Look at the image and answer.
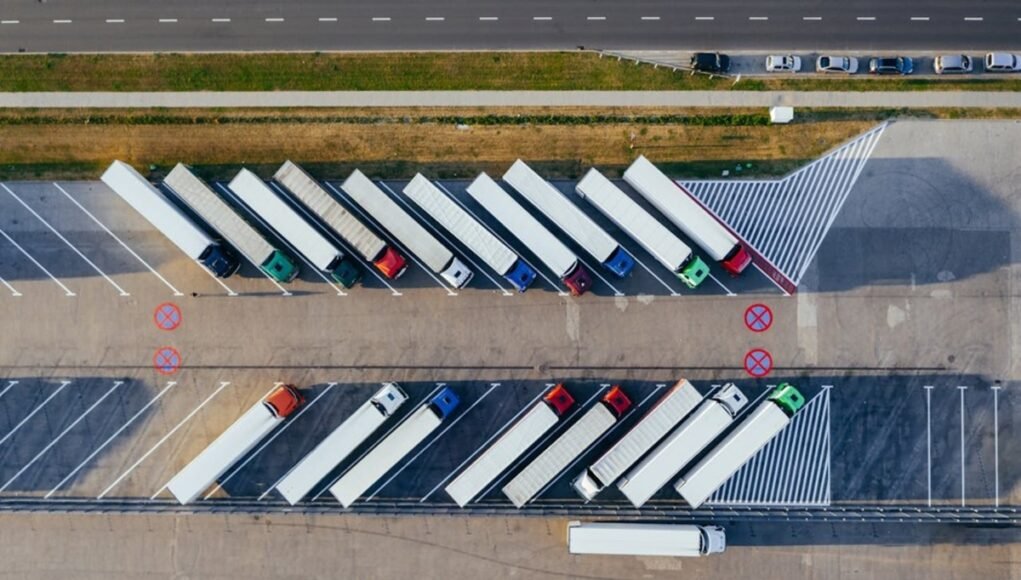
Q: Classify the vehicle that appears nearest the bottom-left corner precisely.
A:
truck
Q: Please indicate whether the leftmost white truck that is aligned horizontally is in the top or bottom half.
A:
bottom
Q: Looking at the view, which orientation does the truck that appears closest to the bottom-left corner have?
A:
on a diagonal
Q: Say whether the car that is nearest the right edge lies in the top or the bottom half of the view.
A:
top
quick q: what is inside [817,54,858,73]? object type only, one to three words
car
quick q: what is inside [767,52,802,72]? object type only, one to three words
car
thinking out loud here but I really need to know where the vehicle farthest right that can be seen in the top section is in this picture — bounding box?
[984,51,1021,72]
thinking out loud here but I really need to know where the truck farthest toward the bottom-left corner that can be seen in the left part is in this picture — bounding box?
[167,381,308,505]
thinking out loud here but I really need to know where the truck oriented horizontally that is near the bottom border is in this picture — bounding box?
[567,519,727,556]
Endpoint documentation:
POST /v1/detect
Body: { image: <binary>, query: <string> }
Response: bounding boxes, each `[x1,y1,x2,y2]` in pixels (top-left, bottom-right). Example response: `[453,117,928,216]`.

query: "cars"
[868,54,913,75]
[933,53,973,74]
[984,51,1021,72]
[690,50,728,72]
[767,52,802,72]
[817,54,858,73]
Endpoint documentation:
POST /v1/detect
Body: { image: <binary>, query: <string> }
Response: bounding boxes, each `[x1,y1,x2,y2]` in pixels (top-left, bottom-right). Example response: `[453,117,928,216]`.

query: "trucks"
[467,171,595,297]
[404,173,537,293]
[622,155,755,276]
[504,384,633,507]
[446,383,576,507]
[165,163,305,286]
[167,381,308,505]
[571,378,701,502]
[228,168,364,292]
[273,160,411,282]
[329,383,463,507]
[617,382,748,506]
[575,167,711,289]
[504,159,636,279]
[277,380,412,505]
[673,381,807,508]
[341,169,475,291]
[567,519,727,556]
[100,159,244,281]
